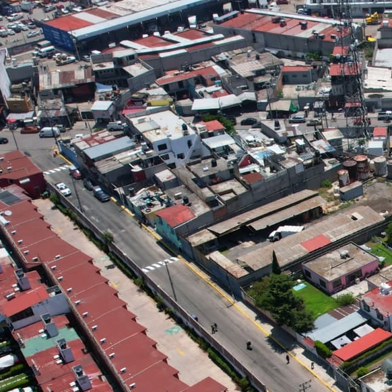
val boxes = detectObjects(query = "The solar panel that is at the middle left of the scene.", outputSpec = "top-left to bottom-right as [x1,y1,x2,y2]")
[0,185,24,205]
